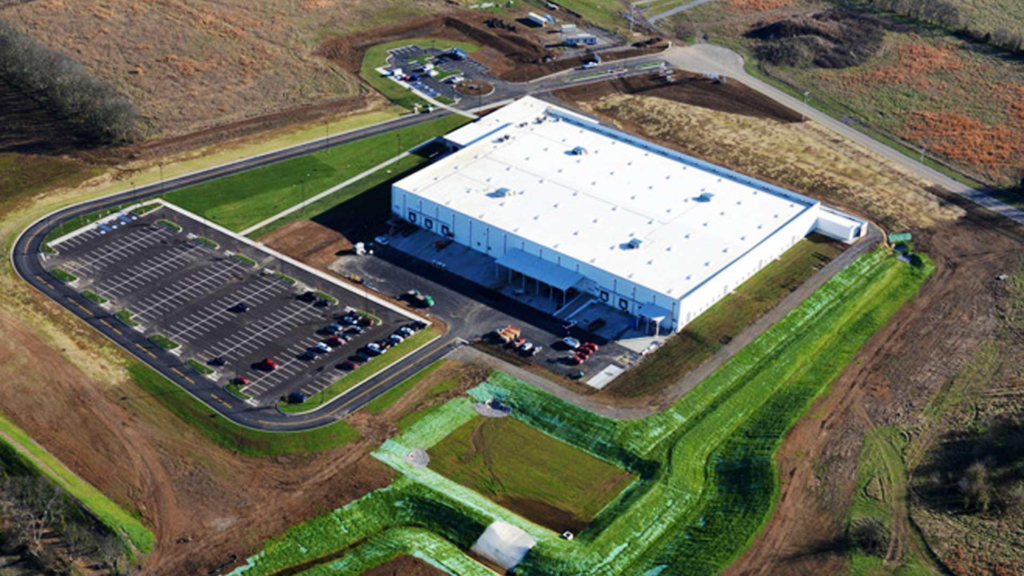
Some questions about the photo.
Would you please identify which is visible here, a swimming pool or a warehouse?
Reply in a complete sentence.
Looking from above, you can make out a warehouse.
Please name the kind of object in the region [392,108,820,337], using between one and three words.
warehouse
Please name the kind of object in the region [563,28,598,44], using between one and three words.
building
